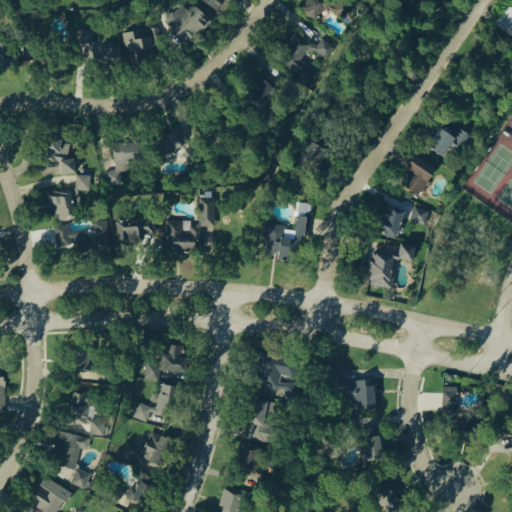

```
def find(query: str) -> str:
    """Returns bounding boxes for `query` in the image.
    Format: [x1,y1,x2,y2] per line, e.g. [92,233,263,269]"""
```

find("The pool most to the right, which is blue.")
[460,394,478,408]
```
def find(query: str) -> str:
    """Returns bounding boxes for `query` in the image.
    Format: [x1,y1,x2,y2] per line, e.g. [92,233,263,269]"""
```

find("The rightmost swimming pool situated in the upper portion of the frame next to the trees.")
[433,179,446,197]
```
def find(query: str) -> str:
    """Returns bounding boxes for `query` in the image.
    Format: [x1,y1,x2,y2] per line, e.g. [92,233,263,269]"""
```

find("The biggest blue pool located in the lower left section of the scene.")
[108,460,132,478]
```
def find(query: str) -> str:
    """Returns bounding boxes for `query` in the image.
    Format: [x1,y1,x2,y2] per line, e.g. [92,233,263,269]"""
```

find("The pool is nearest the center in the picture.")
[273,206,294,222]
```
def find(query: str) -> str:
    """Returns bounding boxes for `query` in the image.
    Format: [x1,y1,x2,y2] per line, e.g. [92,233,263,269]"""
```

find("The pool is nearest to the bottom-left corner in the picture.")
[82,450,98,465]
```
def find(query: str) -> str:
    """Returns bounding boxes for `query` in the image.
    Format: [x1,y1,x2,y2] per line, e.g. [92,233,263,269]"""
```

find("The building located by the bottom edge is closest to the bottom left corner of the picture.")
[32,474,73,512]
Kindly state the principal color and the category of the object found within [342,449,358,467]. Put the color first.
blue swimming pool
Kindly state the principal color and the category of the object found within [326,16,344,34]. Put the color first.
blue swimming pool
